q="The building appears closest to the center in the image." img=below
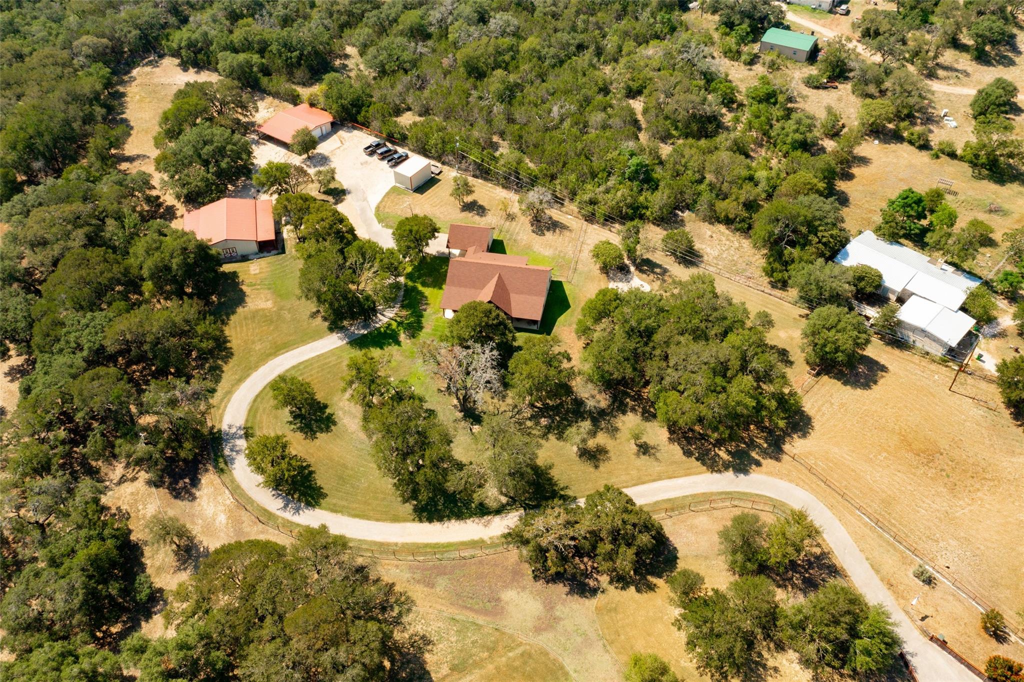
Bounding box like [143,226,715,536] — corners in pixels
[438,221,554,330]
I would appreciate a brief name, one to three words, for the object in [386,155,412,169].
vehicle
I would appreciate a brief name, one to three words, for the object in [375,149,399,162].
vehicle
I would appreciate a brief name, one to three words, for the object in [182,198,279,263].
barn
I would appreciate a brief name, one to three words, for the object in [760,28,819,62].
shed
